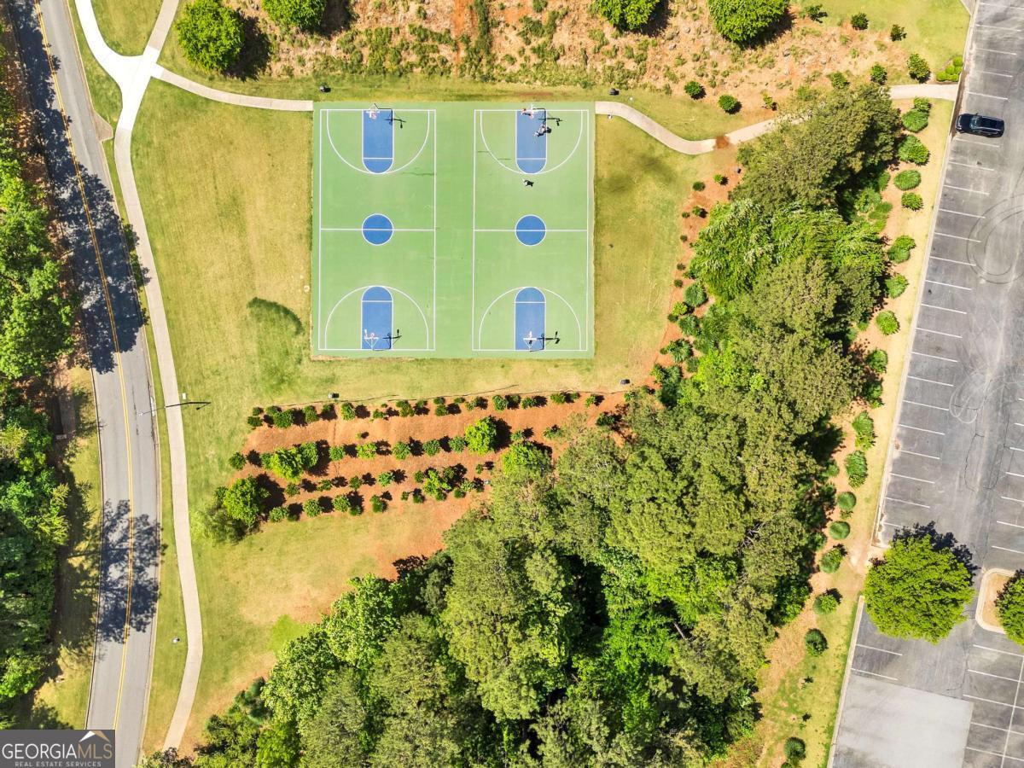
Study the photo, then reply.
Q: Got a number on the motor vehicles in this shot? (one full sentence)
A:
The picture shows just 1 motor vehicle.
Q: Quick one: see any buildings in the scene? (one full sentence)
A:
No, the frame has no building in it.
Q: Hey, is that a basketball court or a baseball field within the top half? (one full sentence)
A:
The feature located within the top half is a basketball court.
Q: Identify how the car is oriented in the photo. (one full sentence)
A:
Seen from above, the car lies horizontally.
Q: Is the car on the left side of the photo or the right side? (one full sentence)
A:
It is on the right.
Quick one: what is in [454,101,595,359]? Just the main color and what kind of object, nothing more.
green basketball court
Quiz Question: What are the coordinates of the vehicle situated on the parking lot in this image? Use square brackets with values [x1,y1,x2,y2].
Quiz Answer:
[954,115,1003,138]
